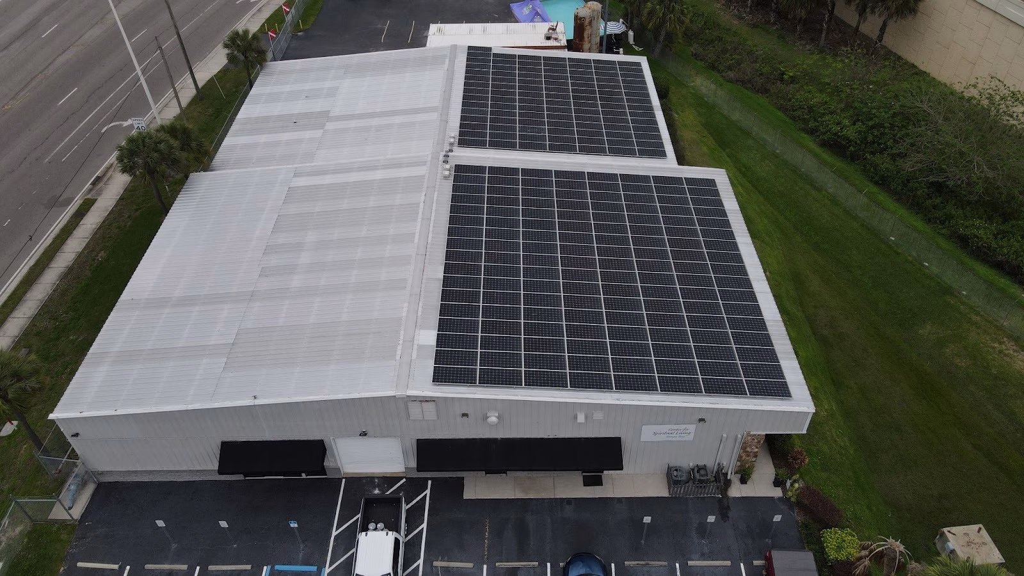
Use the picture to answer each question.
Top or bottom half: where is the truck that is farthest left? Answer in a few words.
bottom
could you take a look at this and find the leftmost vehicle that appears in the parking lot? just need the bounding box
[350,498,407,576]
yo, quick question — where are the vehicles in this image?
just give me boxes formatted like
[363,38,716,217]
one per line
[561,553,611,576]
[350,498,407,576]
[768,546,826,576]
